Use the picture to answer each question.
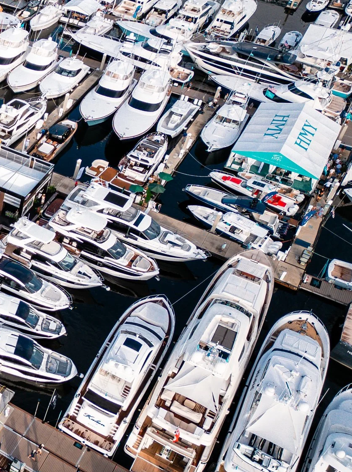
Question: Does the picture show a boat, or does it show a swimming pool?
boat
